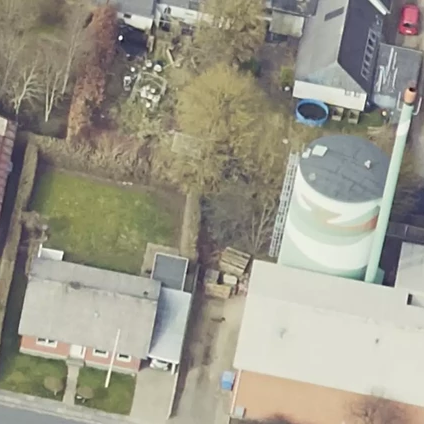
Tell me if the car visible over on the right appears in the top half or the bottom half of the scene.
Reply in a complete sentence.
Seen from above, the car visible over on the right lies in the top half of the view.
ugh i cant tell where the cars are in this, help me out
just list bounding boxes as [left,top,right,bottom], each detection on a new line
[148,357,168,370]
[398,6,420,39]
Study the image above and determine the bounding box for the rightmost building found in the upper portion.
[365,43,424,125]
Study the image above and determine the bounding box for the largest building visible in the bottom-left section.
[19,257,161,372]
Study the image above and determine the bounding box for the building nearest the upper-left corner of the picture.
[117,0,158,39]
